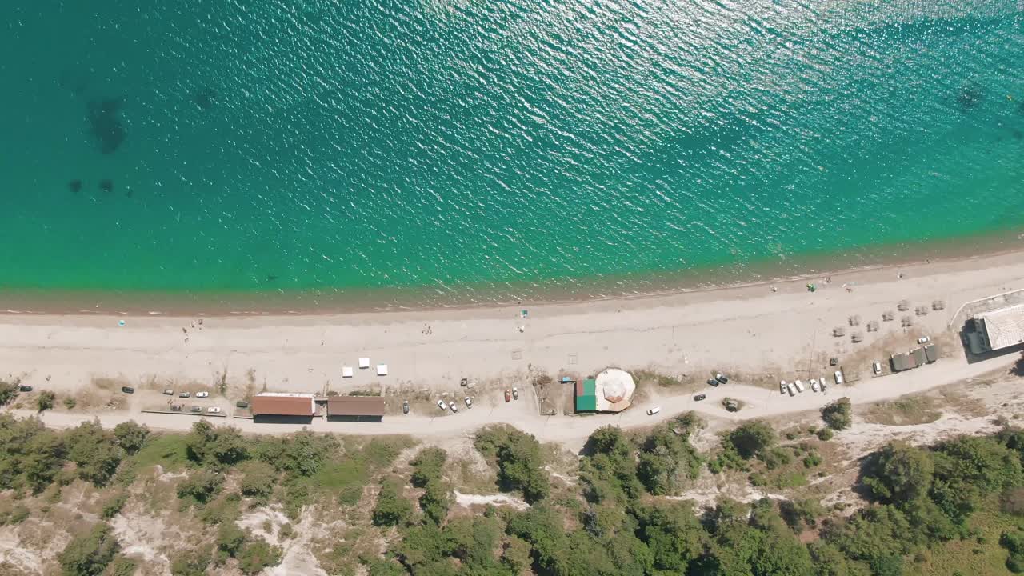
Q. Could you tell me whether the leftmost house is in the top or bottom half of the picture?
bottom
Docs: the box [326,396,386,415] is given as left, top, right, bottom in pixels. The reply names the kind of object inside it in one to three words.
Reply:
house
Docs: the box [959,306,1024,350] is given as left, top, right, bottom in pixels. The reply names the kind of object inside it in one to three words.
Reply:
building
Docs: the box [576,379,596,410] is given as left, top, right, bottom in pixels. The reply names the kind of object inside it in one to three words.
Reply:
building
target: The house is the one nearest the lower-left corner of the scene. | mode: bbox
[251,391,317,416]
